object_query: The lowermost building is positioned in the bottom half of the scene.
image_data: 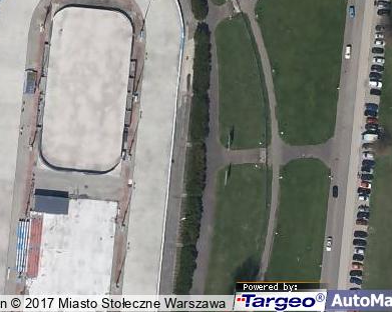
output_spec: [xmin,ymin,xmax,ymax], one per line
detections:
[33,196,69,216]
